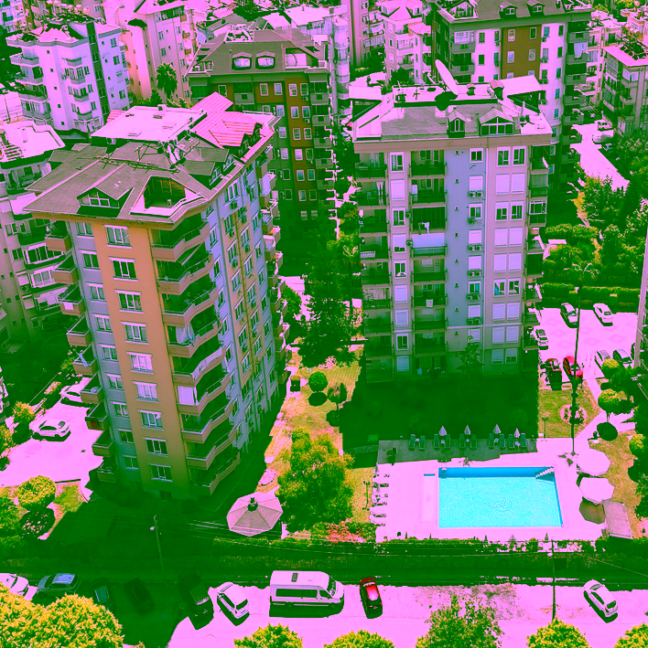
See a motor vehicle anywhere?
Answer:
Yes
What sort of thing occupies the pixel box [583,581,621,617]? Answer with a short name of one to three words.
car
